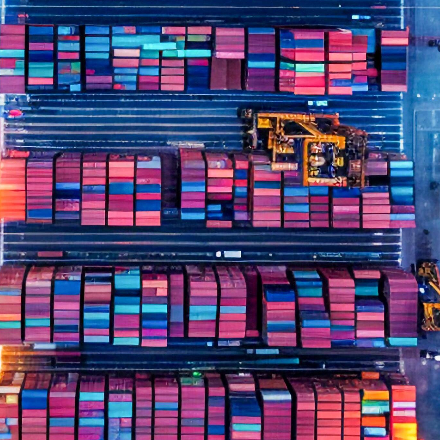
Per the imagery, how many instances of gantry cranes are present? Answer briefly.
1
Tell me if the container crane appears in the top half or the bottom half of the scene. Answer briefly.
top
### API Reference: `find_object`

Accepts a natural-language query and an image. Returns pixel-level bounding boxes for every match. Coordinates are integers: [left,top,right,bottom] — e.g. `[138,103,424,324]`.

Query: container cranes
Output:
[237,108,370,189]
